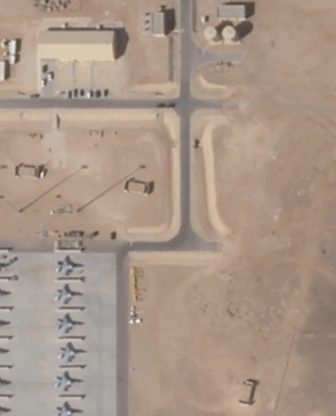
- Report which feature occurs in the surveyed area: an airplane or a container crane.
airplane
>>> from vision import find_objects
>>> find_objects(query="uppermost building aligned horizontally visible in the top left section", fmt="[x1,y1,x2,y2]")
[37,30,116,61]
